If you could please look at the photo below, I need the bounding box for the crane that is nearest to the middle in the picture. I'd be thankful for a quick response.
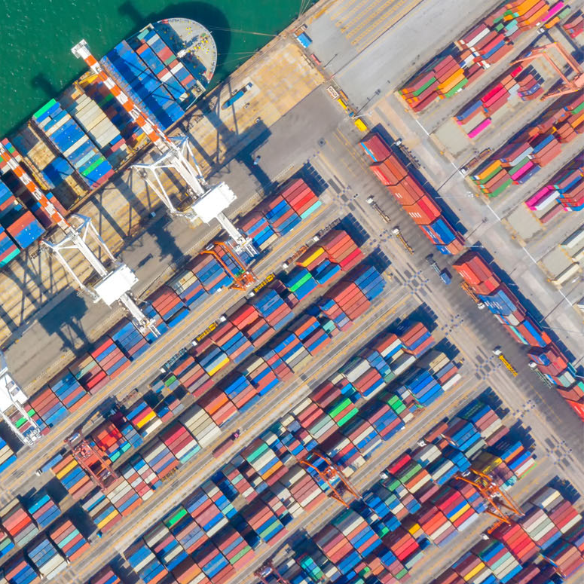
[199,240,259,292]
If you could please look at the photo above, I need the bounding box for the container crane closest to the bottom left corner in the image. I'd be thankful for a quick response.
[62,427,117,491]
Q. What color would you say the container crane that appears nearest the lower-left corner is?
red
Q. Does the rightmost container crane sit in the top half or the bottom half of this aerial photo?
top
